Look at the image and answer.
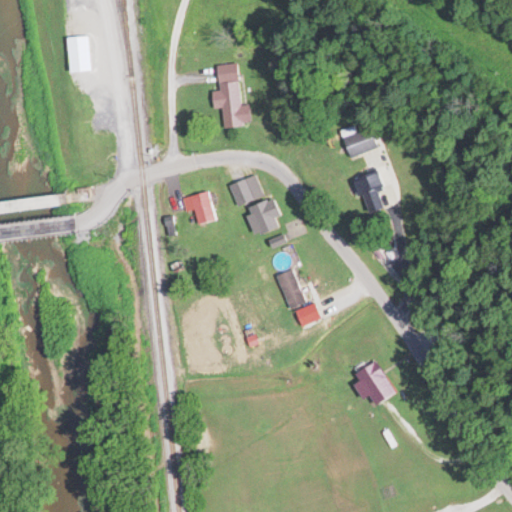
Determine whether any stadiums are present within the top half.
No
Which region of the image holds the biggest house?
top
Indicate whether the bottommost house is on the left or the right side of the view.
right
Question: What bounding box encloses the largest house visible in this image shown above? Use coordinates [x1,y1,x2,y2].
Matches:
[212,62,252,128]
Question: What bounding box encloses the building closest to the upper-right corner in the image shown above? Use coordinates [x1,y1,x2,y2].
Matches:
[340,128,376,157]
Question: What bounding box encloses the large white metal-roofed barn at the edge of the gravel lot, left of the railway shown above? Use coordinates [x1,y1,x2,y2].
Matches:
[68,35,92,72]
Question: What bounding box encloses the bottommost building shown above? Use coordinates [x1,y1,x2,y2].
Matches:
[354,362,395,406]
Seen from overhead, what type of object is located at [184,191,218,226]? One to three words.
house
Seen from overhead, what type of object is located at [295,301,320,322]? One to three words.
building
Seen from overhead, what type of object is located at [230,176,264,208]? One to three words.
house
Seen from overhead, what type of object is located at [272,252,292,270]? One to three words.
swimming pool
